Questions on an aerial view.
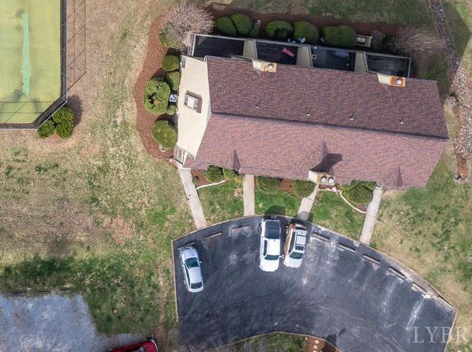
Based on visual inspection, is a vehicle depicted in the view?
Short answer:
Yes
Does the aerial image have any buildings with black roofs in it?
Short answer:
No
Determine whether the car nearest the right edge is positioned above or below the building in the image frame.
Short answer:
below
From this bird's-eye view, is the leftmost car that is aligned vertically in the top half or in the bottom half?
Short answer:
bottom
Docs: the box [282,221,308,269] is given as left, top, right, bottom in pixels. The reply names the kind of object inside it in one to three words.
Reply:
car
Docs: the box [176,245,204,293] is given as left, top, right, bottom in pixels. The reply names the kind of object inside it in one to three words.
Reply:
car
